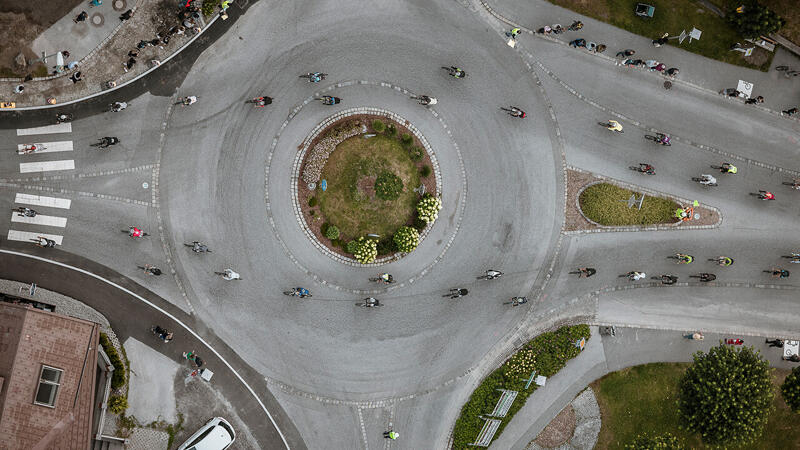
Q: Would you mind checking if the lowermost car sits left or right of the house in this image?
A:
to the right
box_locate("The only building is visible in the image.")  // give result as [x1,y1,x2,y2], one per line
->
[0,294,128,450]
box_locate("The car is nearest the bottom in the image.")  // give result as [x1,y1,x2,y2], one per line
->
[180,416,241,450]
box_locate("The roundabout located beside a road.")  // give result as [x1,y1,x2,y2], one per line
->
[155,0,566,405]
